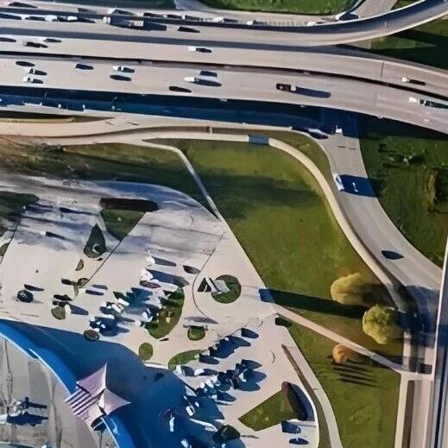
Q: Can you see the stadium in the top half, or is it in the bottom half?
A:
bottom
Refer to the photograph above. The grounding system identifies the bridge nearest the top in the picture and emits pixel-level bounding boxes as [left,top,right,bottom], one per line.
[0,0,448,50]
